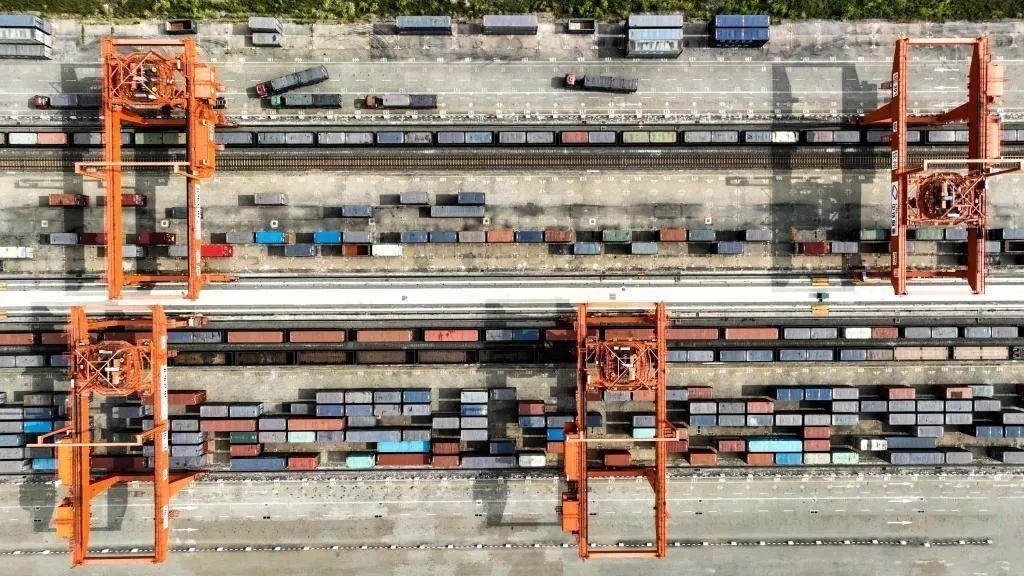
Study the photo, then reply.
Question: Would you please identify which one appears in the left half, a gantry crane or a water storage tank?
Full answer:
Visible in the left half is a gantry crane.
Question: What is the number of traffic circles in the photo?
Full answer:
The photo contains no traffic circles.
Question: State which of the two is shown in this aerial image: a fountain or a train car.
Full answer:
Of the two, only a train car appears.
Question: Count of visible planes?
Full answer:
Not a single plane can be seen.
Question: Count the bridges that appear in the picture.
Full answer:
The photo contains no bridges.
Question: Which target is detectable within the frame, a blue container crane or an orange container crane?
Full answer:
The image shows an orange container crane.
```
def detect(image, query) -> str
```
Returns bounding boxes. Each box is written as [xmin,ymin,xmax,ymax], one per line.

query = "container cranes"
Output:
[550,300,682,558]
[26,303,210,564]
[845,38,1024,294]
[72,38,240,299]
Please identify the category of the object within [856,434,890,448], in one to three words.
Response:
vehicle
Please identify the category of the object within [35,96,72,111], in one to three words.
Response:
vehicle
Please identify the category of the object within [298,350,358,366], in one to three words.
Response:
rail car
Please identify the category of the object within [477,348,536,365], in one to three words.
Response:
rail car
